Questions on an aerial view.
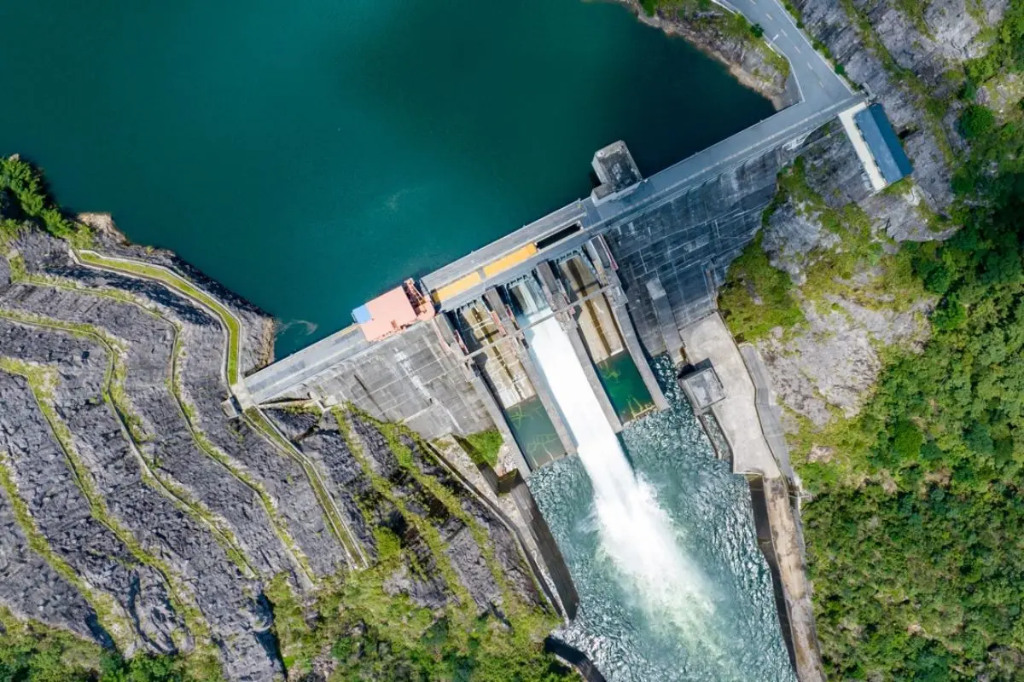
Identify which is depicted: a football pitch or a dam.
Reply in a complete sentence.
Of the two, only a dam appears.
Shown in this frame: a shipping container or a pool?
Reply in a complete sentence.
Of the two, only a pool appears.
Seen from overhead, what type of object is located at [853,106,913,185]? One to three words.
building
